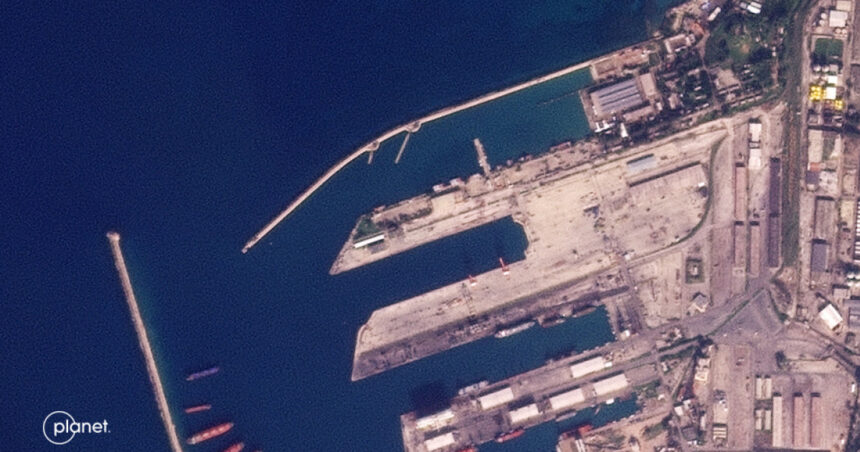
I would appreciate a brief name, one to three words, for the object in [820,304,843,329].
building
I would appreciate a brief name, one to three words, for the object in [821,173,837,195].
building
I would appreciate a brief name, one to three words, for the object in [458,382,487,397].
ship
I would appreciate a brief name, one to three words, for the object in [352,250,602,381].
pier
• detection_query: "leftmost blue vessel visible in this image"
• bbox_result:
[186,368,219,381]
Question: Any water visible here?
Yes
